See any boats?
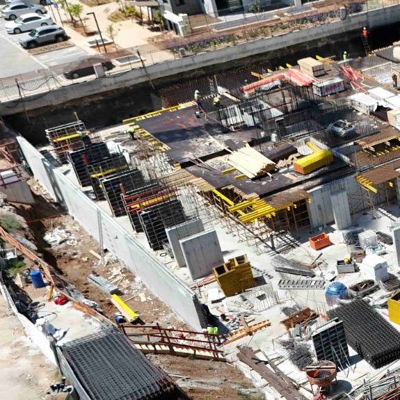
No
